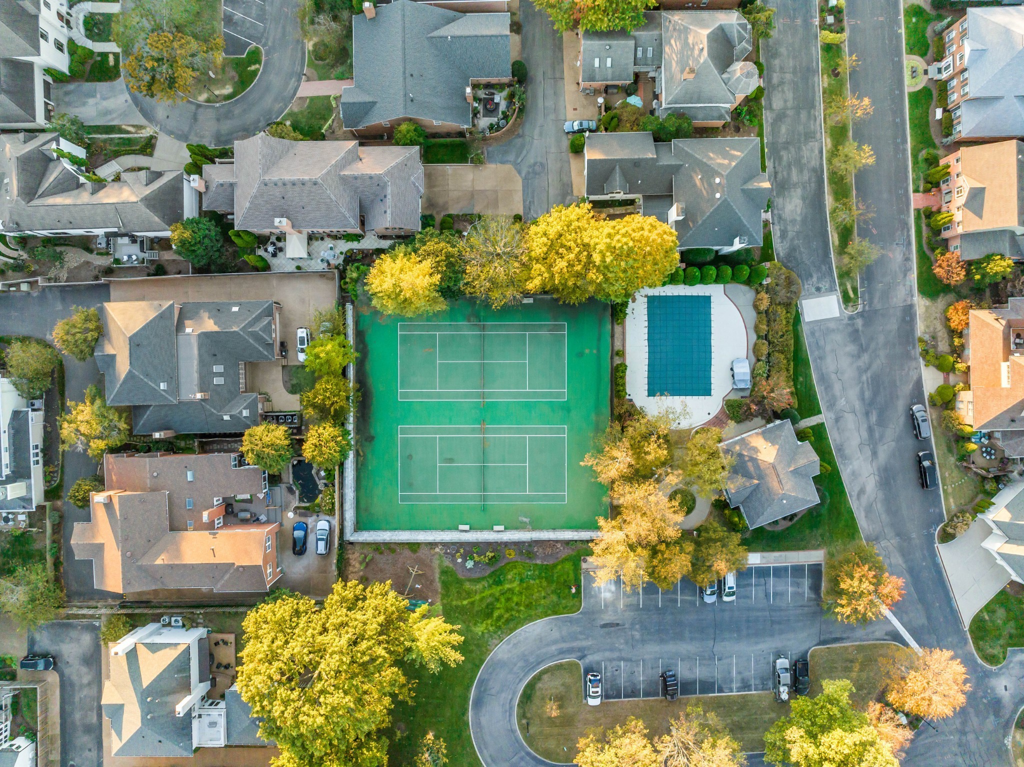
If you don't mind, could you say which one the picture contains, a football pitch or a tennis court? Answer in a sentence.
I can see a tennis court in this picture.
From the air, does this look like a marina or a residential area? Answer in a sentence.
What you see here is a residential area.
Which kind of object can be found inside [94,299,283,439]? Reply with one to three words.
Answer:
house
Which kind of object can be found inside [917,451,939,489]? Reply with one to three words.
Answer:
car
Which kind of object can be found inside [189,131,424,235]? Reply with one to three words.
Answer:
house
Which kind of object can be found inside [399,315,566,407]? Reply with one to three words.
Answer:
tennis court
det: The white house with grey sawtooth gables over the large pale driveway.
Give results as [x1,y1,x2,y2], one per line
[971,482,1024,587]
